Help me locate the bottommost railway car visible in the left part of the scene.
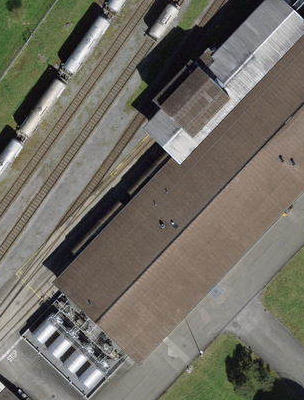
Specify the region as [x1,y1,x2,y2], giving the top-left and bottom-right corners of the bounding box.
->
[73,202,127,258]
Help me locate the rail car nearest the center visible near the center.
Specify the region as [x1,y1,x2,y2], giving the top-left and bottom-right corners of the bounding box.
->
[126,153,174,204]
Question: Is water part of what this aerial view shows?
No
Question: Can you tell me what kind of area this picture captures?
industrial area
